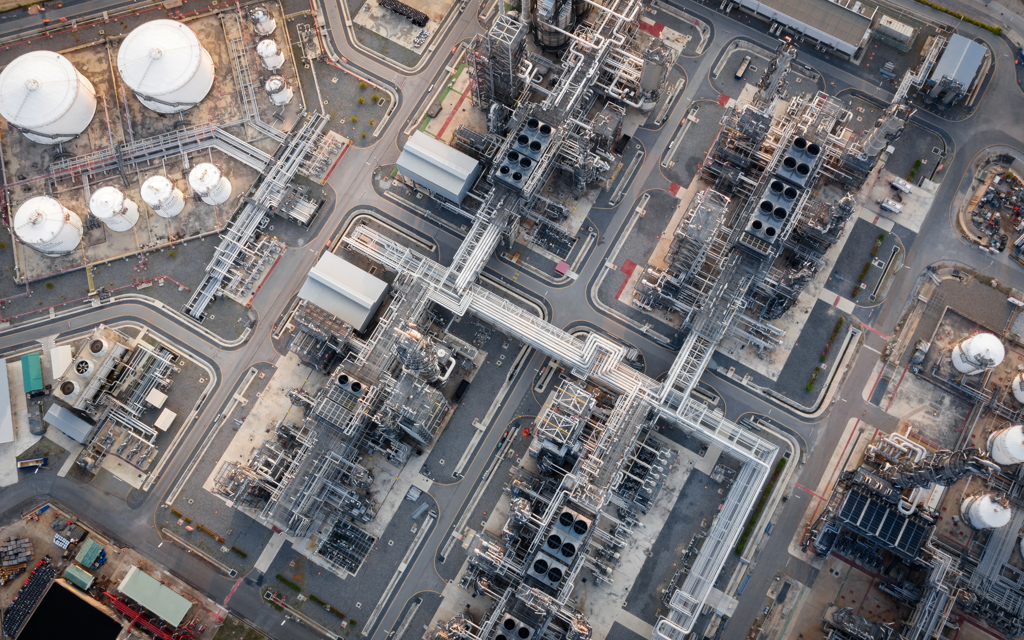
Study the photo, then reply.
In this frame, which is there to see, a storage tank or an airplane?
storage tank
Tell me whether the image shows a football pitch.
No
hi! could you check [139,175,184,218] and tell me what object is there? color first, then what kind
white storage tank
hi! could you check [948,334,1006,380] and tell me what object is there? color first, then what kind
white storage tank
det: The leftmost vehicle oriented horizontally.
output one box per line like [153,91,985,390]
[18,456,48,469]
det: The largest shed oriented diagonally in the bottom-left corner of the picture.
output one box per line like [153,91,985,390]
[118,565,199,627]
